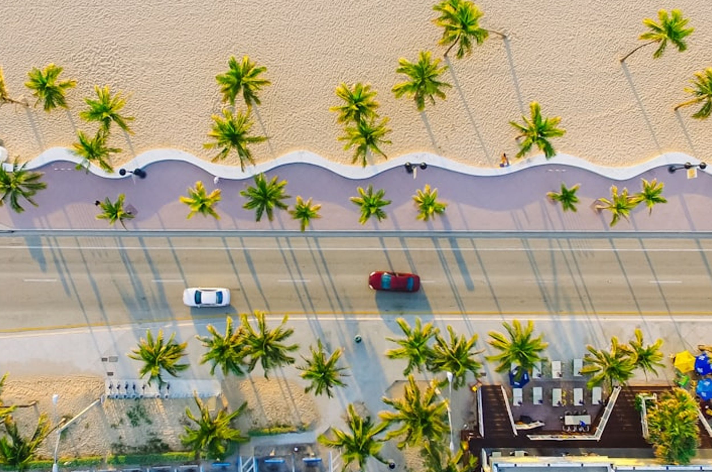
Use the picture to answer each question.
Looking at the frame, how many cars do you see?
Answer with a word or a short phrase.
two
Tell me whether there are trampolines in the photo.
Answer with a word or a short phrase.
No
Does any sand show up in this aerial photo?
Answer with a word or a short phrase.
Yes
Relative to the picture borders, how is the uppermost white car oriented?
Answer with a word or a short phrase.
from side to side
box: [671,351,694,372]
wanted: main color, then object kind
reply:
yellow umbrella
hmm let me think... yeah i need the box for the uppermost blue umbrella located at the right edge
[693,353,712,375]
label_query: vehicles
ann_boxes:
[369,271,421,294]
[182,287,230,309]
